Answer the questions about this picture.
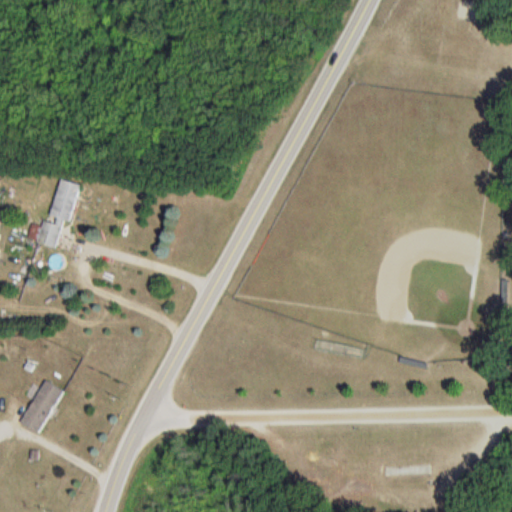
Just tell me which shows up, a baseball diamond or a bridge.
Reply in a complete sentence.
I can see a baseball diamond in this picture.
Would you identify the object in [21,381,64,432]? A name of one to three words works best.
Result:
house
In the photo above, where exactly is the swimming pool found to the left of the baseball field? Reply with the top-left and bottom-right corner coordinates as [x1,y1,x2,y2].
[48,254,66,270]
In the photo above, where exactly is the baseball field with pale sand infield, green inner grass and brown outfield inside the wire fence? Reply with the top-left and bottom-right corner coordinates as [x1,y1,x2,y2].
[236,83,501,362]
